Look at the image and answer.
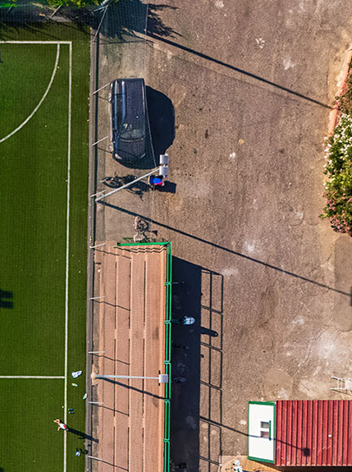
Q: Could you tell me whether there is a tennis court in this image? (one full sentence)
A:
No, there isn't any tennis court down there.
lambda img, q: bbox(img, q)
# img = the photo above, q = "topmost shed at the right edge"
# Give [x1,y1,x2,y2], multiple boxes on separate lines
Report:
[248,402,352,465]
